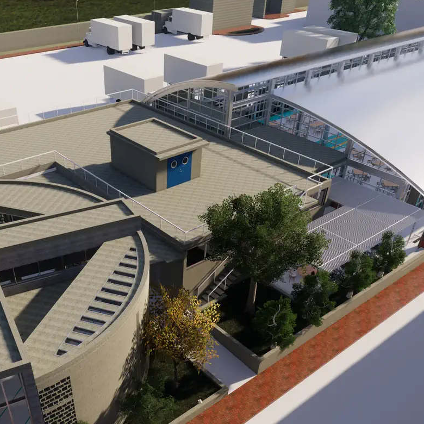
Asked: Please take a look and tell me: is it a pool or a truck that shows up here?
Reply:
truck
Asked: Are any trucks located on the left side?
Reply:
Yes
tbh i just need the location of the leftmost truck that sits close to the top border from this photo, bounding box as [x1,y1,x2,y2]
[84,18,131,54]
